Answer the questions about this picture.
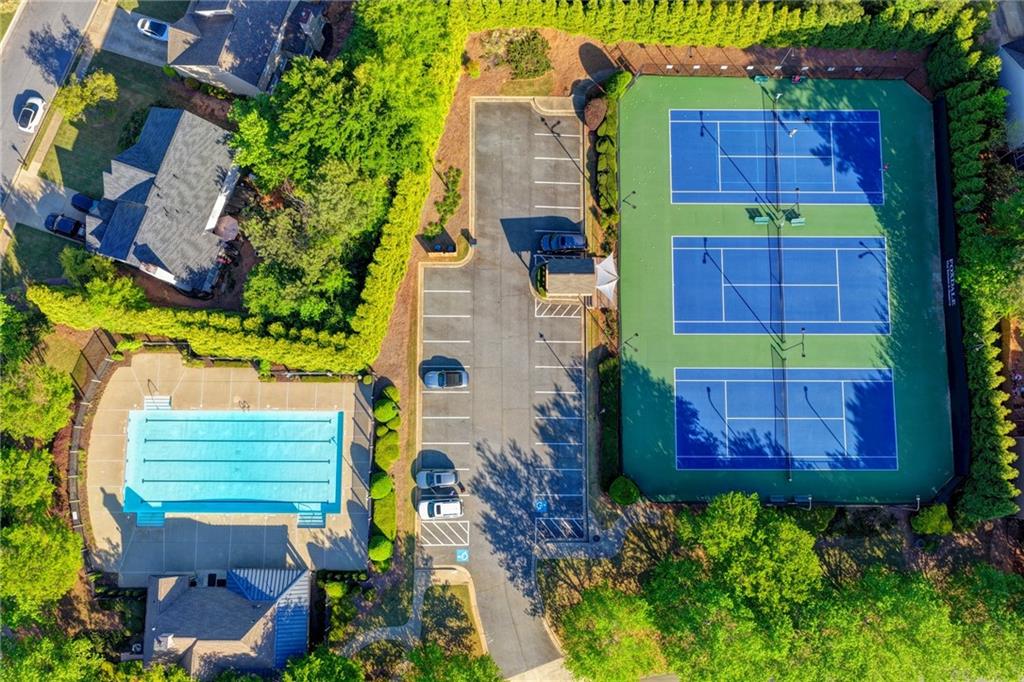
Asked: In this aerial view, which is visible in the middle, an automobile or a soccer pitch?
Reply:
automobile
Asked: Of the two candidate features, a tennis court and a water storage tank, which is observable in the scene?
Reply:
tennis court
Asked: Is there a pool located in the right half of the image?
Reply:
No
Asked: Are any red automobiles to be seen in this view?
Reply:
No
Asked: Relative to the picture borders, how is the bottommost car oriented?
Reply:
from left to right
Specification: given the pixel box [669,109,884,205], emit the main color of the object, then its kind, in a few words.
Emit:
blue tennis court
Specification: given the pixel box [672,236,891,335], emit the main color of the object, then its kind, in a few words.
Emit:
blue tennis court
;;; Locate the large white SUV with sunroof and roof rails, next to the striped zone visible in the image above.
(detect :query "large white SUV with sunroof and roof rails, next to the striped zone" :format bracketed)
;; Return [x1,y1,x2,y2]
[419,500,463,523]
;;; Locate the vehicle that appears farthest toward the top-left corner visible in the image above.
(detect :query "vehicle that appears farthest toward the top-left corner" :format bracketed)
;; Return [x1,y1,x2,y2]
[14,93,43,133]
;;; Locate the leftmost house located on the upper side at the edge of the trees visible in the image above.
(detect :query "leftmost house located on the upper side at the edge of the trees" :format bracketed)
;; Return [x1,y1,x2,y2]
[86,107,240,286]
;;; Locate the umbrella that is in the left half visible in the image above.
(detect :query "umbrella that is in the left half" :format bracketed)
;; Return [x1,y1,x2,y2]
[217,217,240,240]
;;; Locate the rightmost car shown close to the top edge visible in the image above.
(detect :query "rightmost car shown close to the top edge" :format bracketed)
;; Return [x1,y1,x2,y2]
[133,15,171,41]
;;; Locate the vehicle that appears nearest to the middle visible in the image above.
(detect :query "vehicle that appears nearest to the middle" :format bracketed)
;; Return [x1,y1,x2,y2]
[424,369,468,389]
